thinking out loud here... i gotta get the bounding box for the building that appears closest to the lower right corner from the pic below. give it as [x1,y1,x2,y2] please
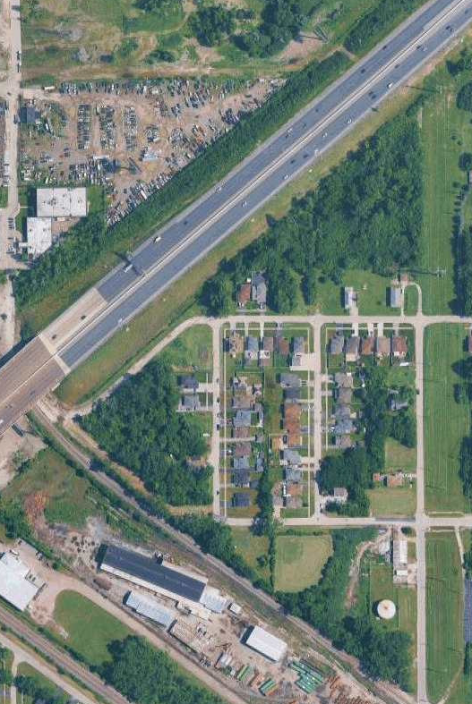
[392,540,407,584]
